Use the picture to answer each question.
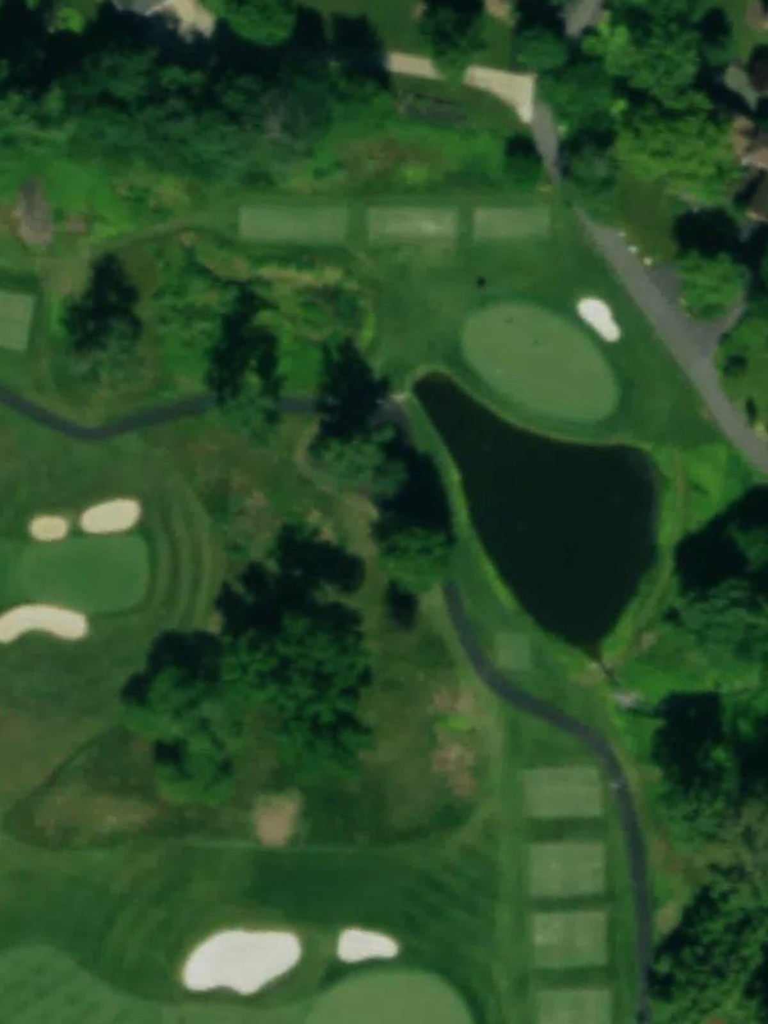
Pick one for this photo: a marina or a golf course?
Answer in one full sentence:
It's a golf course.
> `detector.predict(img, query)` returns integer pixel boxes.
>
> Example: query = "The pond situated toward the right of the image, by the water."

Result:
[414,372,659,661]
